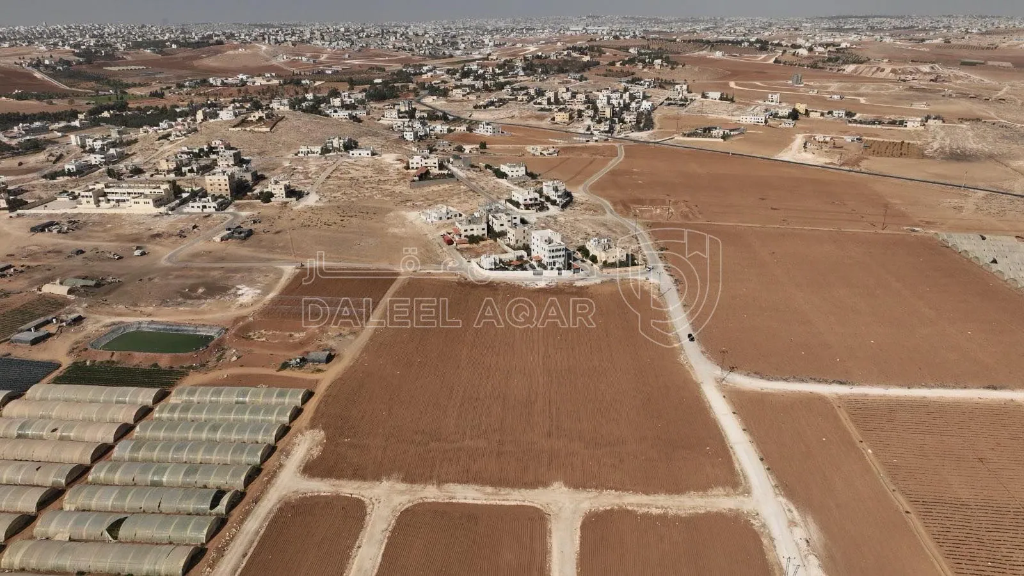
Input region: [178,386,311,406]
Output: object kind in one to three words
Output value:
greenhouse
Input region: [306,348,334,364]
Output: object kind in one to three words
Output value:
shed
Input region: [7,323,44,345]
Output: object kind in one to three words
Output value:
building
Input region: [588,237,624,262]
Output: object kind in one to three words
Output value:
house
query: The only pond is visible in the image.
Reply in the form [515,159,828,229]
[80,323,235,360]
